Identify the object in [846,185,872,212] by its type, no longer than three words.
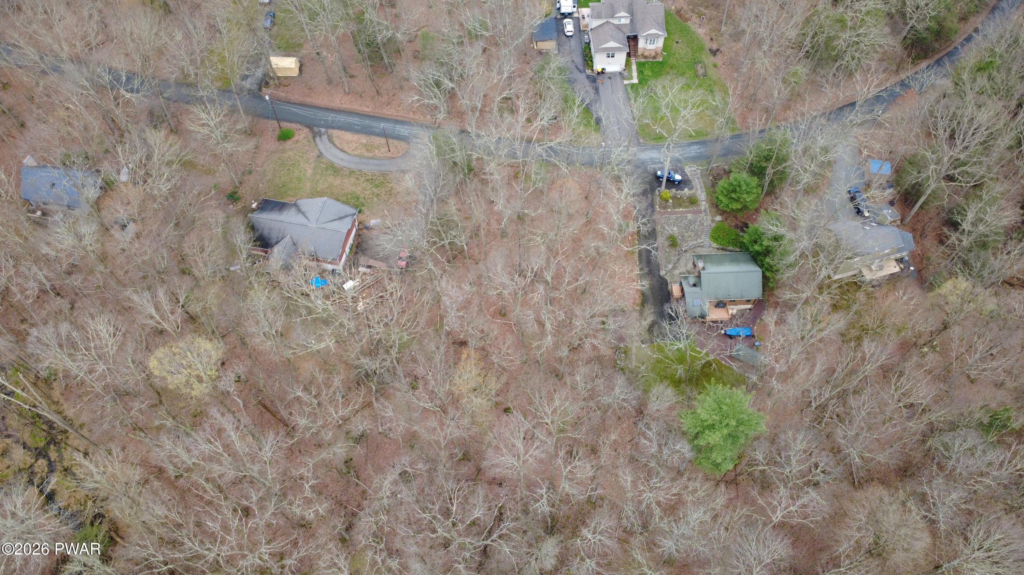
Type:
truck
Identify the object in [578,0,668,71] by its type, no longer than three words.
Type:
house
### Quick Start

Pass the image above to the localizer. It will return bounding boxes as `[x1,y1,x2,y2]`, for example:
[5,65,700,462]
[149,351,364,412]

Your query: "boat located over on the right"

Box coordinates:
[719,325,753,339]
